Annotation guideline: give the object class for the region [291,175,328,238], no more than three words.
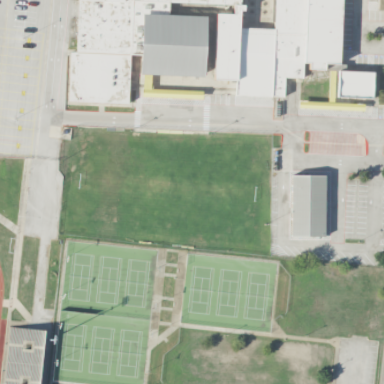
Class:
building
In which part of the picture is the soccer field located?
center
